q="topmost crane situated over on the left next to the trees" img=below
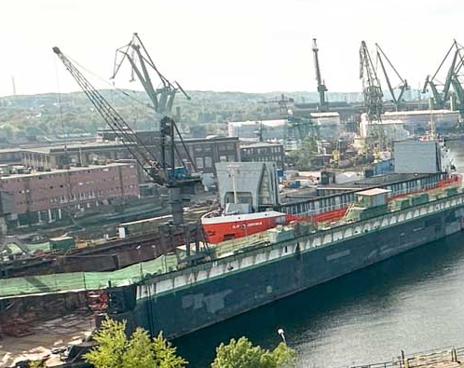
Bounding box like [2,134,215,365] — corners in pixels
[112,31,193,126]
